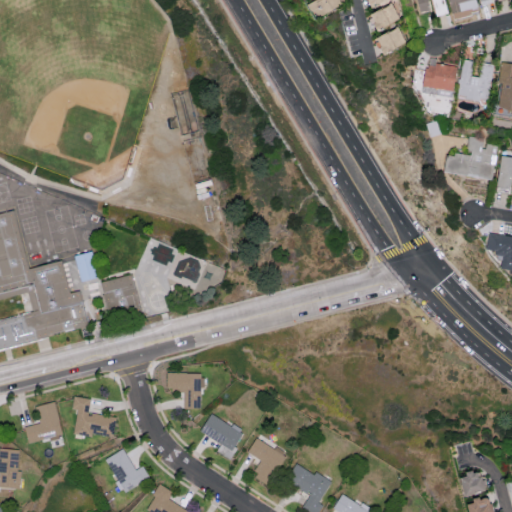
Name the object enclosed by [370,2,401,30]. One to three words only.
house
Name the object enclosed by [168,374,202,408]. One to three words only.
house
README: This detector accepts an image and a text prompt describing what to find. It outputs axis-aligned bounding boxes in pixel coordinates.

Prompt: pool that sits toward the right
[456,99,486,116]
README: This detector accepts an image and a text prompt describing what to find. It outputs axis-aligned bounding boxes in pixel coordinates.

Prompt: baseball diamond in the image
[0,0,167,189]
